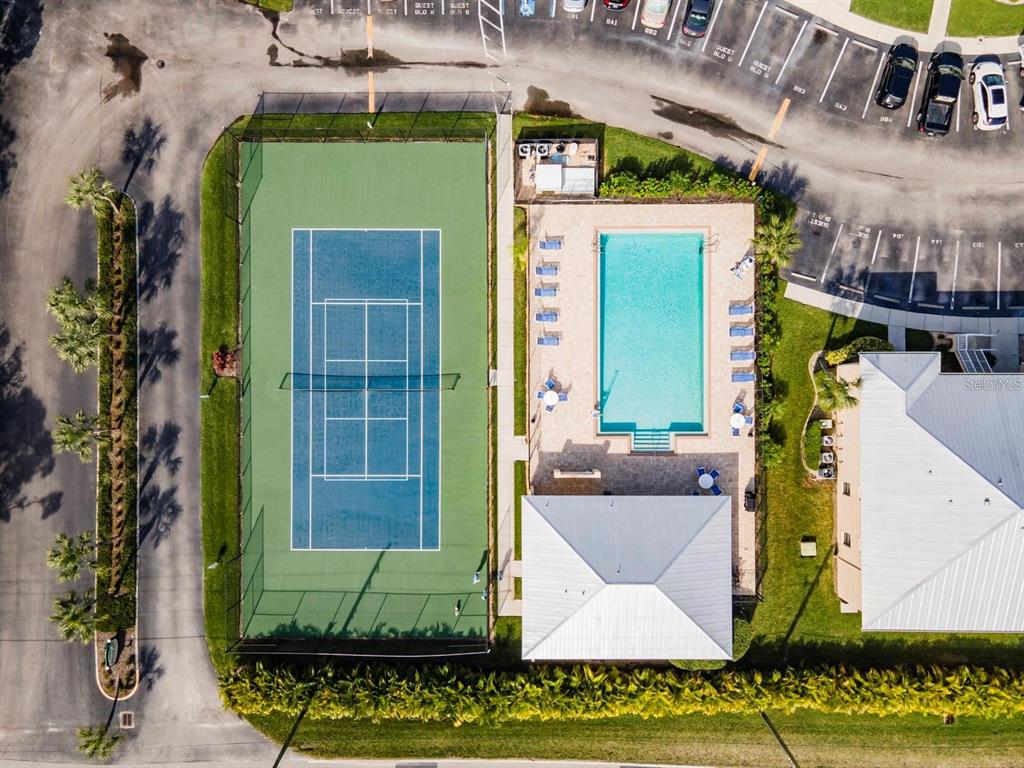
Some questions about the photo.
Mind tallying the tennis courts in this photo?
1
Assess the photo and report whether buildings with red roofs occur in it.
No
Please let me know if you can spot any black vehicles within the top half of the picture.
Yes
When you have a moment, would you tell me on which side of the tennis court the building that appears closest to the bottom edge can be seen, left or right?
on its right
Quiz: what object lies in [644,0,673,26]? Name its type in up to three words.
car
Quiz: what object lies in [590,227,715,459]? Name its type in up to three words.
swimming pool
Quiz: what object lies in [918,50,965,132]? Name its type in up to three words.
truck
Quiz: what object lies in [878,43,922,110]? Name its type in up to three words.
car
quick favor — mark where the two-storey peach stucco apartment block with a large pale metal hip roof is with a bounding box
[834,352,1024,634]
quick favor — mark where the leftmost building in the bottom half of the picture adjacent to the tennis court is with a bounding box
[521,495,733,662]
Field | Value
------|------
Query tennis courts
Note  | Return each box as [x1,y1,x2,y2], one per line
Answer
[241,141,488,639]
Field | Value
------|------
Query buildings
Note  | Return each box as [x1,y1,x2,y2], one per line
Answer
[536,165,561,194]
[834,352,1024,634]
[521,495,733,662]
[564,168,594,194]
